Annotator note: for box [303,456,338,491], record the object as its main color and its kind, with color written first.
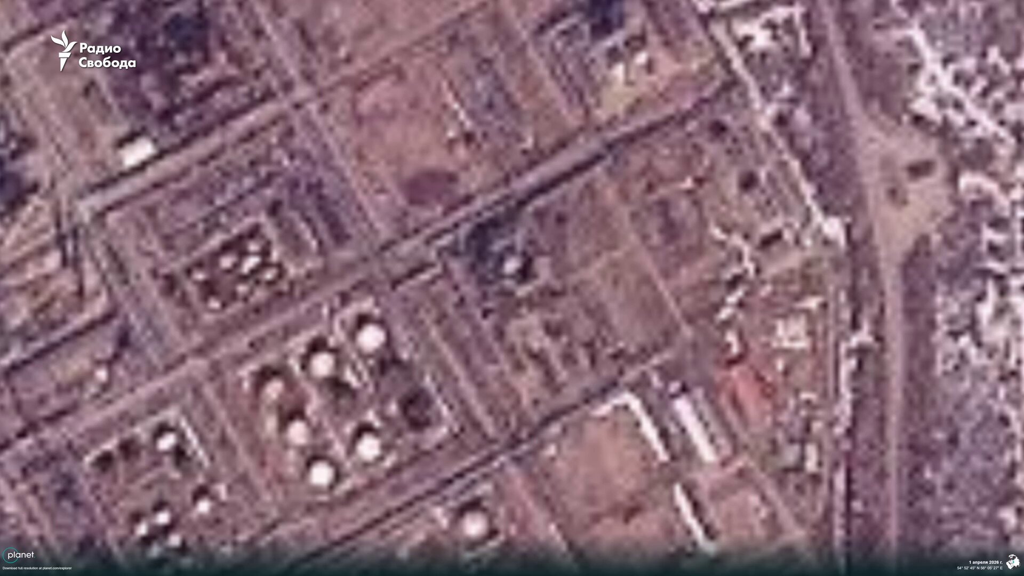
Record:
white storage tank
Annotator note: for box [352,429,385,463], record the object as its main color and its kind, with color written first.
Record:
white storage tank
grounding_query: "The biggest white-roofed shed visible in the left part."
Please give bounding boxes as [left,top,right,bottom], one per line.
[120,138,154,166]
